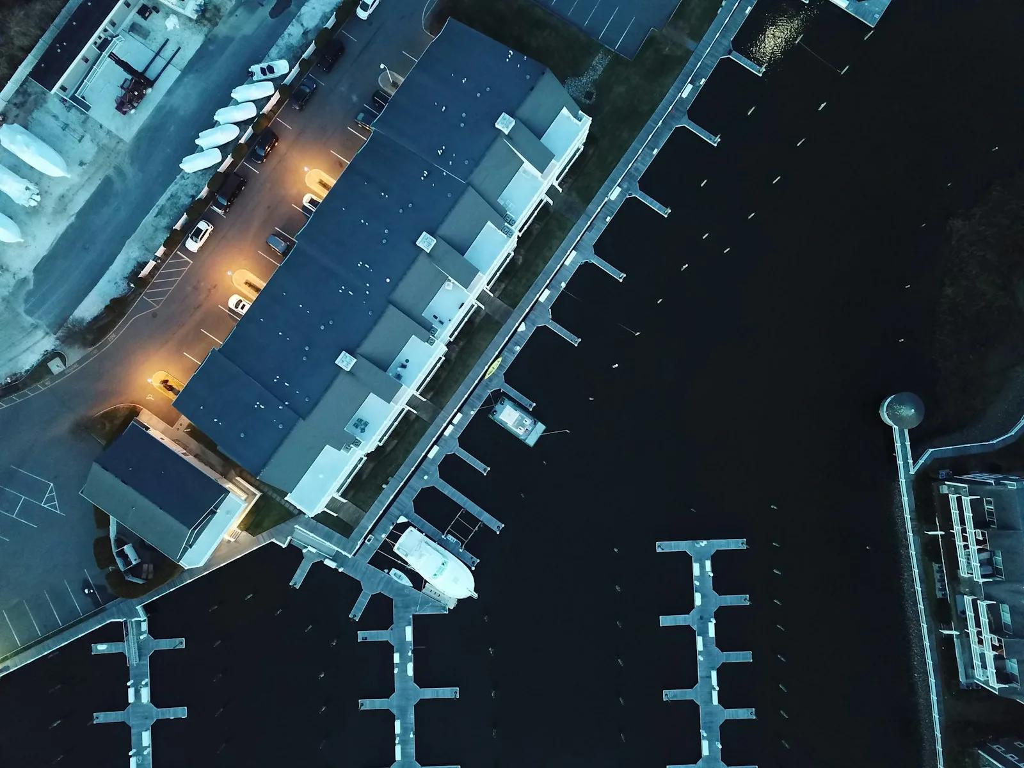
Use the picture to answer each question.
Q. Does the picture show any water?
Yes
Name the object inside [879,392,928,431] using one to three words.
gazebo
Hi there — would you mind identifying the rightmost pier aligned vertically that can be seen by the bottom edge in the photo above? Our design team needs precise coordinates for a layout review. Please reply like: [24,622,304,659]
[655,538,759,768]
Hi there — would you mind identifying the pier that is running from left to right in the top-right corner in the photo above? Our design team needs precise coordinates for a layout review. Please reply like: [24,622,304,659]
[822,0,892,30]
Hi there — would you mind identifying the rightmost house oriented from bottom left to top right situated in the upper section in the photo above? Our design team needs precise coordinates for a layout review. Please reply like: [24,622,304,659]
[171,17,591,517]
